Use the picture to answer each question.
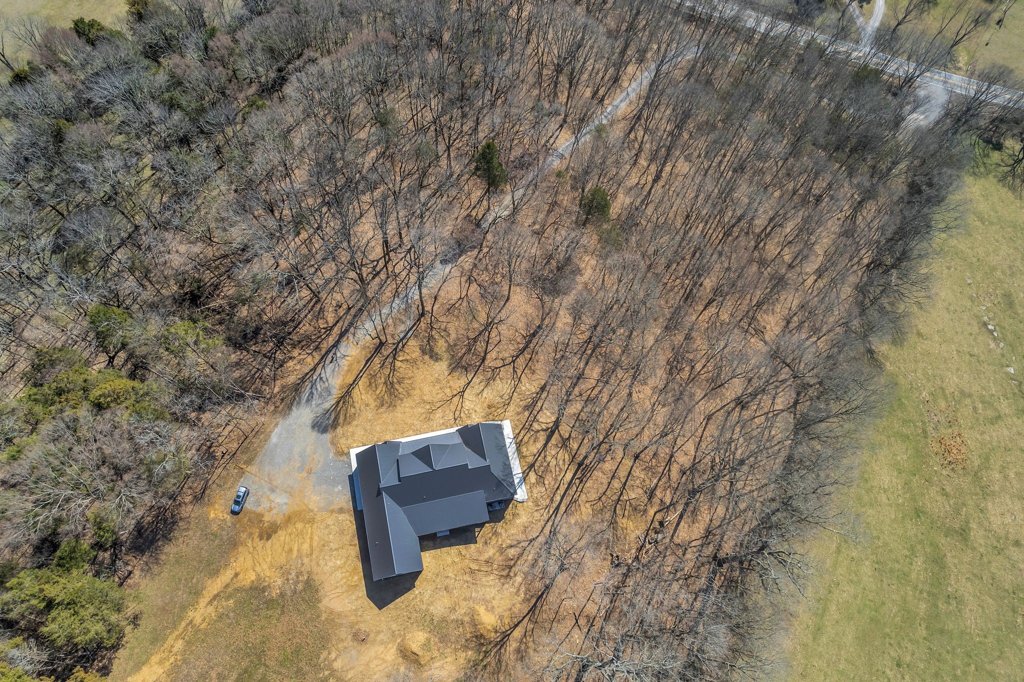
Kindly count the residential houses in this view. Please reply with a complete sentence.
In total, 1 residential house can be seen.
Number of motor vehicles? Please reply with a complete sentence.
Only 1 motor vehicle is visible.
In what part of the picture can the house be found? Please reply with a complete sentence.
The house is in the bottom part of the image.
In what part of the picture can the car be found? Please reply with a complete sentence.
The car is in the bottom left part of the image.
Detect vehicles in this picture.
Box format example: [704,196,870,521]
[230,486,251,517]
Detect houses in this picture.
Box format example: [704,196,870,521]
[355,423,518,581]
